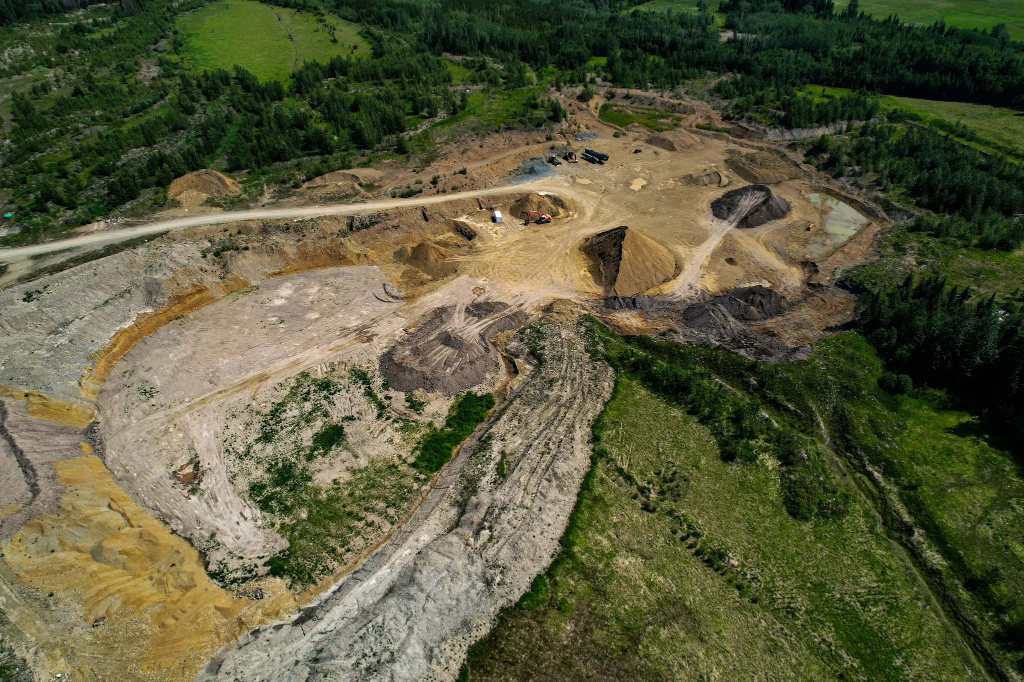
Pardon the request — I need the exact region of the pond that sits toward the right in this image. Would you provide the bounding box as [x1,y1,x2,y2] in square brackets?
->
[808,194,869,259]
